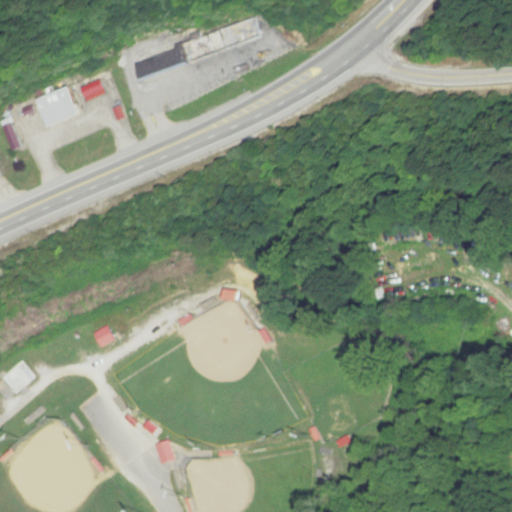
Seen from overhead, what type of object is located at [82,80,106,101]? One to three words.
barn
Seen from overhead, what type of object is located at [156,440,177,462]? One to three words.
building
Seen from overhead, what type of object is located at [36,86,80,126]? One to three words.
building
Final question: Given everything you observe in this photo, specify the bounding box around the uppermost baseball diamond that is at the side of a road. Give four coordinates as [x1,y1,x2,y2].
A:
[116,300,310,445]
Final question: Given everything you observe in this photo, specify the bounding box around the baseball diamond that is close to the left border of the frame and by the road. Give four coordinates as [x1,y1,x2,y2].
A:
[0,418,150,512]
